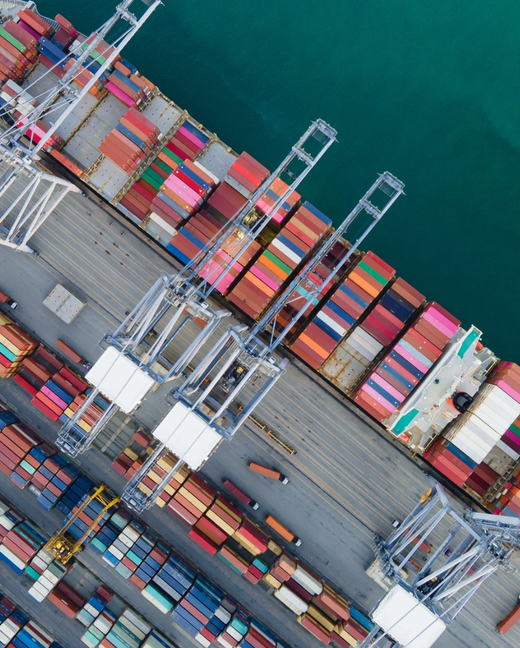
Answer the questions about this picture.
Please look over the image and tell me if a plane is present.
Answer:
No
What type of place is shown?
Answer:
port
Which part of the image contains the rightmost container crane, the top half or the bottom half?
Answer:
bottom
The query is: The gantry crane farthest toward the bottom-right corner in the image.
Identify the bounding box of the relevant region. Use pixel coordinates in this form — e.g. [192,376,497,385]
[348,464,520,648]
